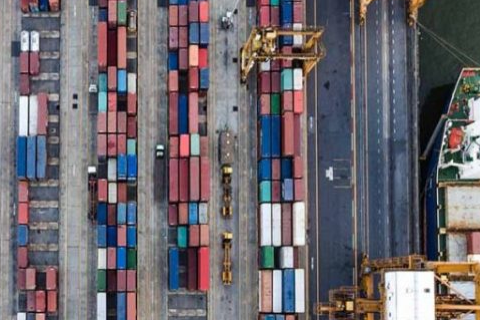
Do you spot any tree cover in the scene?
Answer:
No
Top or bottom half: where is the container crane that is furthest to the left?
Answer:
top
